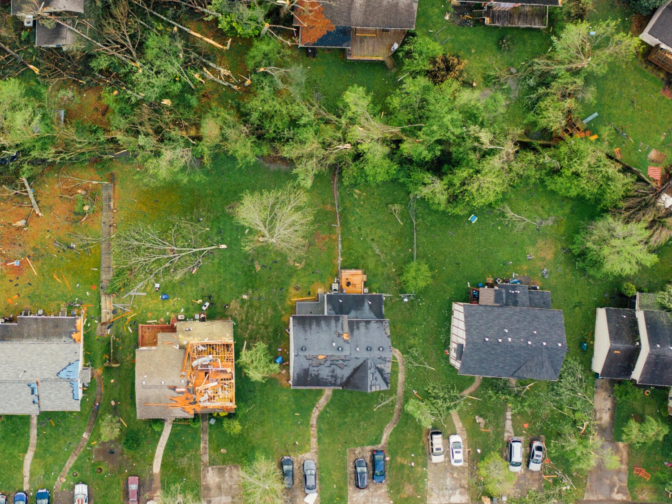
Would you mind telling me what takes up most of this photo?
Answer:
grass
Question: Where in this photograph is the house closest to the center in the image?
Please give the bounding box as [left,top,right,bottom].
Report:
[290,270,395,394]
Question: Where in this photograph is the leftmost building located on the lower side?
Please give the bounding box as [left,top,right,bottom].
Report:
[0,316,91,416]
